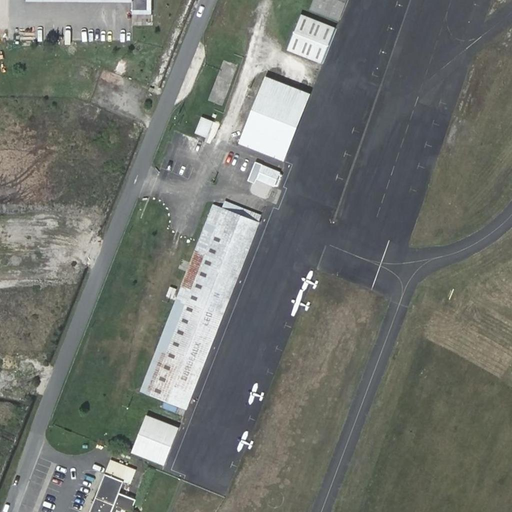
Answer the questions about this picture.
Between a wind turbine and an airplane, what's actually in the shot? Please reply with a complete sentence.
There is an airplane in the scene.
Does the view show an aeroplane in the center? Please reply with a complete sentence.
Yes, an aeroplane appears in the center.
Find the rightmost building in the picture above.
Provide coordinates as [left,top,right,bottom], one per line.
[286,13,338,68]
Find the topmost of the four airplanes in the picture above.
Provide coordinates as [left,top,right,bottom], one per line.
[302,270,320,292]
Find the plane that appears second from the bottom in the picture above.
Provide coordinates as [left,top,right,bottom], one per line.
[248,384,266,404]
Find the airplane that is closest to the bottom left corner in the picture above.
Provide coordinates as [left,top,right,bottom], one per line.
[237,431,256,452]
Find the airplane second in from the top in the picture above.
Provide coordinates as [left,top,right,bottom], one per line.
[290,290,311,316]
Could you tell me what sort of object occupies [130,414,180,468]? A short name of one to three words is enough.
hangar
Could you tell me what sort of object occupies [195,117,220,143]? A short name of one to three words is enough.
shed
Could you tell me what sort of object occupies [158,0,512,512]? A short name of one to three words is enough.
airport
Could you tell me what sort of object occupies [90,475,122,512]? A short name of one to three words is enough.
building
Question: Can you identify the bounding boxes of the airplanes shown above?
[248,384,266,404]
[290,290,311,316]
[302,270,320,292]
[237,431,256,452]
